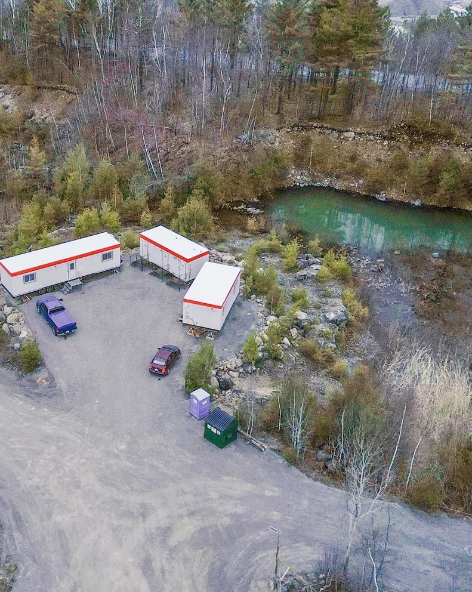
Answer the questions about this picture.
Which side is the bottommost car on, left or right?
left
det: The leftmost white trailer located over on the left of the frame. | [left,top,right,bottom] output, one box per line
[1,231,125,300]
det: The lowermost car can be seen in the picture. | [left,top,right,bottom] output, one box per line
[149,345,179,380]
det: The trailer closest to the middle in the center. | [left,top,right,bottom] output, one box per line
[183,260,243,335]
